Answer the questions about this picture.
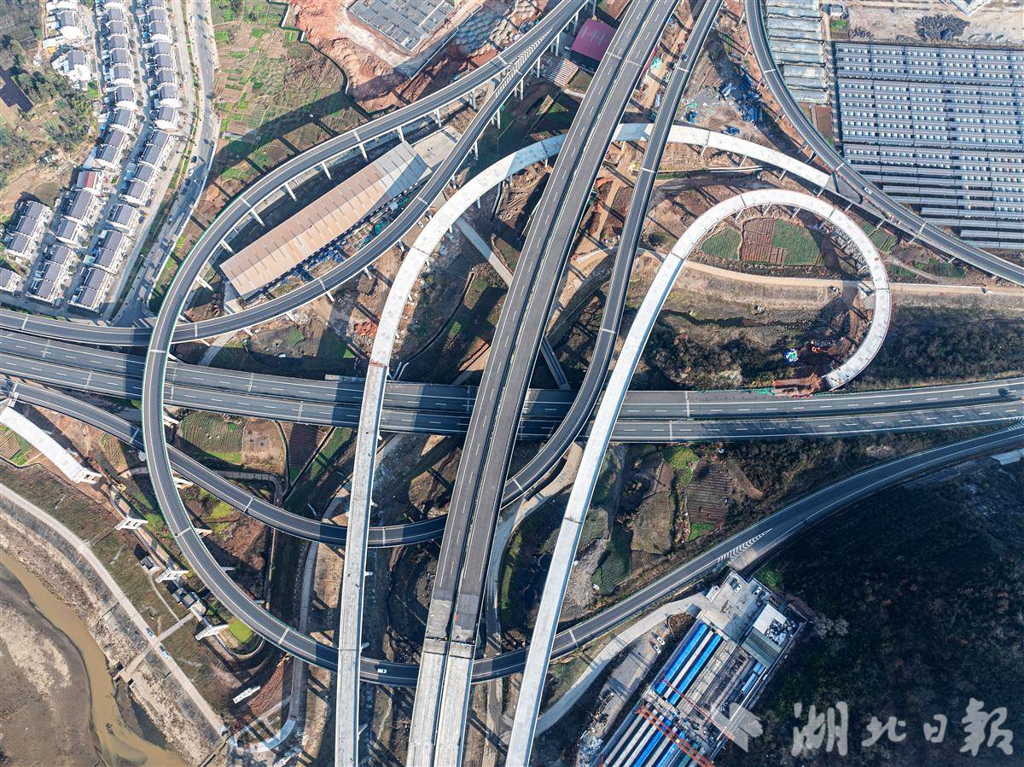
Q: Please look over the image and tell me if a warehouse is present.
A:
Yes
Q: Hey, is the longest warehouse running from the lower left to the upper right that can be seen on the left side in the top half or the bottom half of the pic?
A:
top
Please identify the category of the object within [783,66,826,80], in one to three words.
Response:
greenhouse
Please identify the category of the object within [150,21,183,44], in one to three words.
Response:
house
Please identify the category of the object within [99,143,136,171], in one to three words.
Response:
house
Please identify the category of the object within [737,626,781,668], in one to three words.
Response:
shed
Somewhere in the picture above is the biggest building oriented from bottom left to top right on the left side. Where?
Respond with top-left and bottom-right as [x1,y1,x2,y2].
[220,141,434,299]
